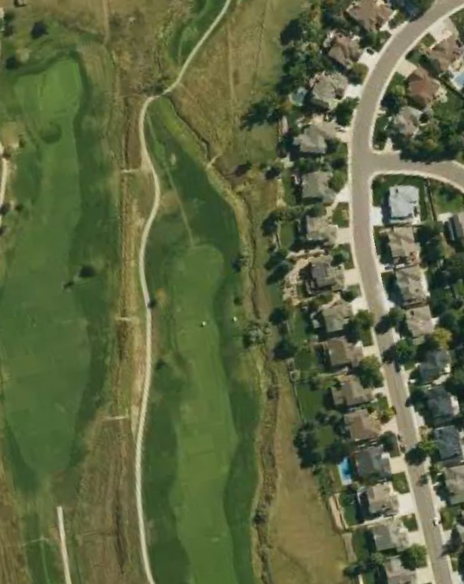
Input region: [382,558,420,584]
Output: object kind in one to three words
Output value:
house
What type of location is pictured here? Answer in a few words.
golf course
